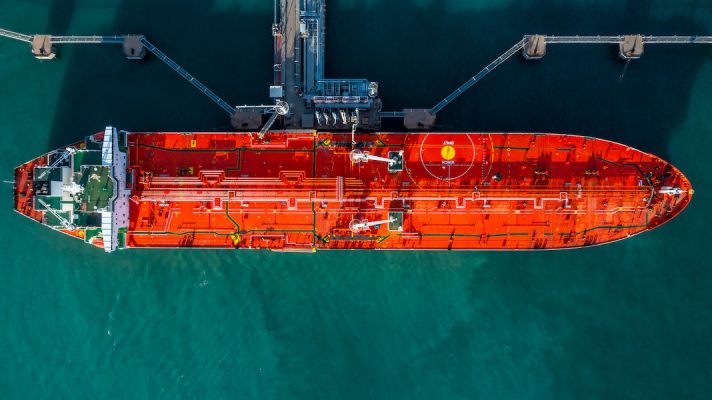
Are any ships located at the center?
Yes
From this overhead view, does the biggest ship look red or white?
red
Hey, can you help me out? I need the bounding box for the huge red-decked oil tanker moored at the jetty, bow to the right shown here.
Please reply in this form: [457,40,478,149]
[1,127,696,252]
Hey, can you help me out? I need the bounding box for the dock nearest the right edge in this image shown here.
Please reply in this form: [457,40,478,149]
[273,0,382,132]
